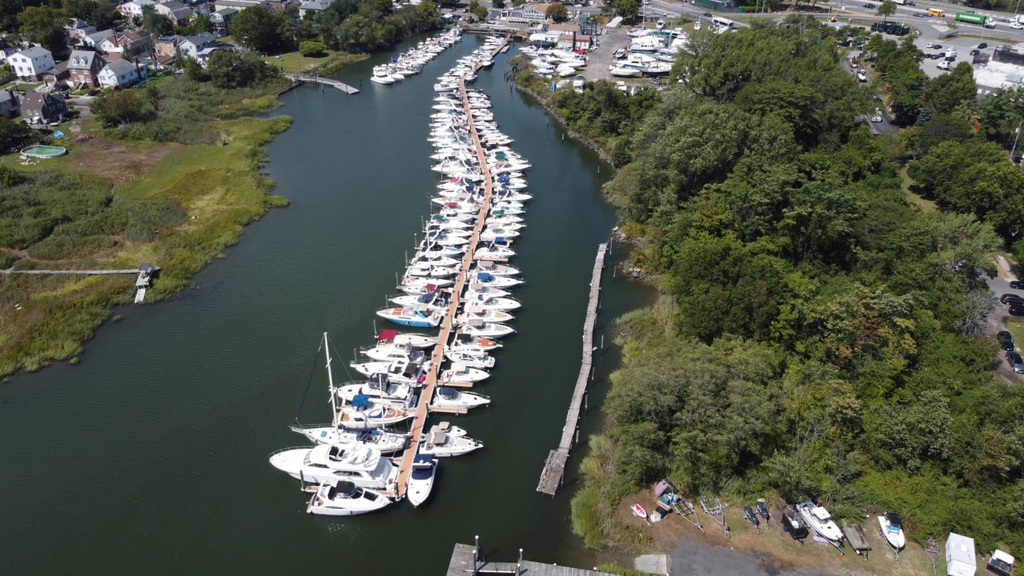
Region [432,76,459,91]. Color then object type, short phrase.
white boat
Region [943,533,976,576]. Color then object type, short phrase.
white vehicle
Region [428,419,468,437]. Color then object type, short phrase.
white boat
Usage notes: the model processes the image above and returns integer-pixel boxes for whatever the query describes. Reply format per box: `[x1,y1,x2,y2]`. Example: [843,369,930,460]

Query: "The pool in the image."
[19,144,64,159]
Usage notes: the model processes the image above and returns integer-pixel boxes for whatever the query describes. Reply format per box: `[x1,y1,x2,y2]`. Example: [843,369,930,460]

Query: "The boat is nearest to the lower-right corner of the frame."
[872,508,905,550]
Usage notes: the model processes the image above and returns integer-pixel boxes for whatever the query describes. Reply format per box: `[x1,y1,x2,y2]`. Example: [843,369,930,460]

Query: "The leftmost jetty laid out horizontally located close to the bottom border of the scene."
[449,544,647,576]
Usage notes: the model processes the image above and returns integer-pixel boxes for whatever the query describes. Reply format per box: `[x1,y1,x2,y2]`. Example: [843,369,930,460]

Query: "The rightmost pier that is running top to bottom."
[535,243,607,495]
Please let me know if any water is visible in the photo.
Yes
